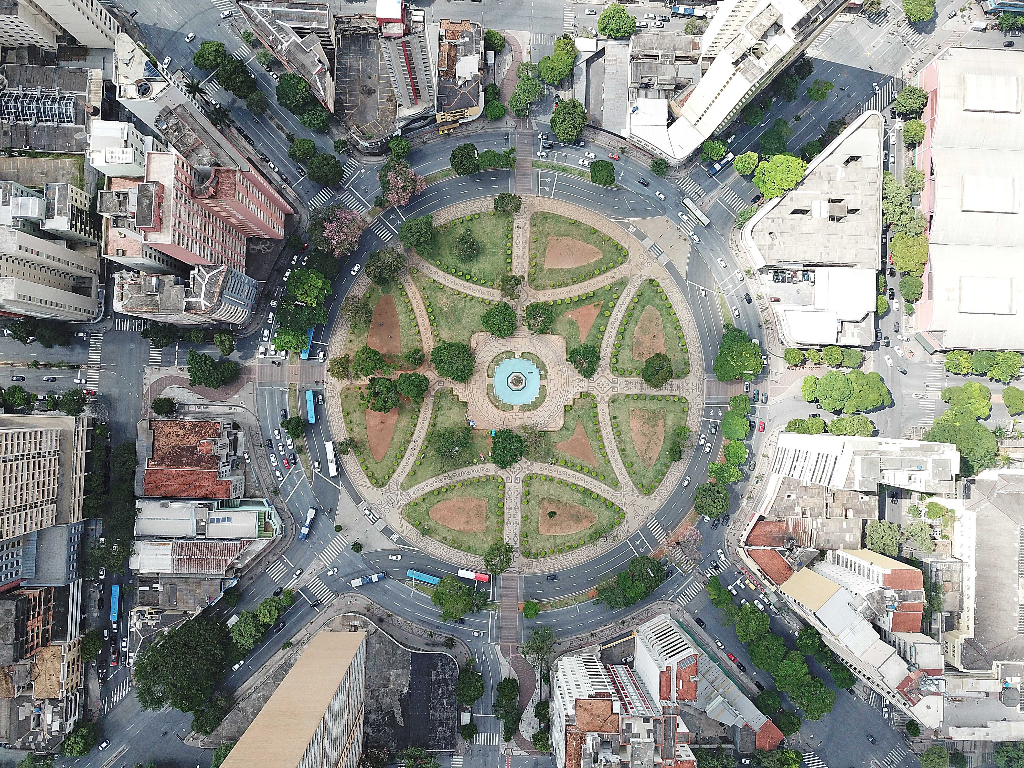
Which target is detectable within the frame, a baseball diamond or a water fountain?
water fountain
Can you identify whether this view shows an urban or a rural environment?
urban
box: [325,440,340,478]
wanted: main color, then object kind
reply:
white vehicle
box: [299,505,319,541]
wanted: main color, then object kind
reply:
white bus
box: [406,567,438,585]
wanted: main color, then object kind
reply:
blue vehicle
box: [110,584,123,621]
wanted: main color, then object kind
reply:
blue vehicle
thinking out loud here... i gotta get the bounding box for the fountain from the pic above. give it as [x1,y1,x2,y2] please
[493,358,540,404]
